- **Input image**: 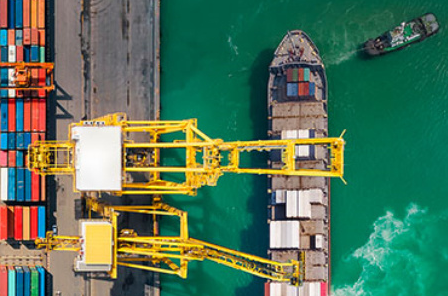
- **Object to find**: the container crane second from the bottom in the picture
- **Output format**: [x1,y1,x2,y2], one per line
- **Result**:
[29,109,355,197]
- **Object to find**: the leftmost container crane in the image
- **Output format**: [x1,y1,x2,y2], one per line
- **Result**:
[0,61,54,99]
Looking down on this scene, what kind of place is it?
port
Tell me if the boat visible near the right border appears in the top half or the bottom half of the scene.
top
